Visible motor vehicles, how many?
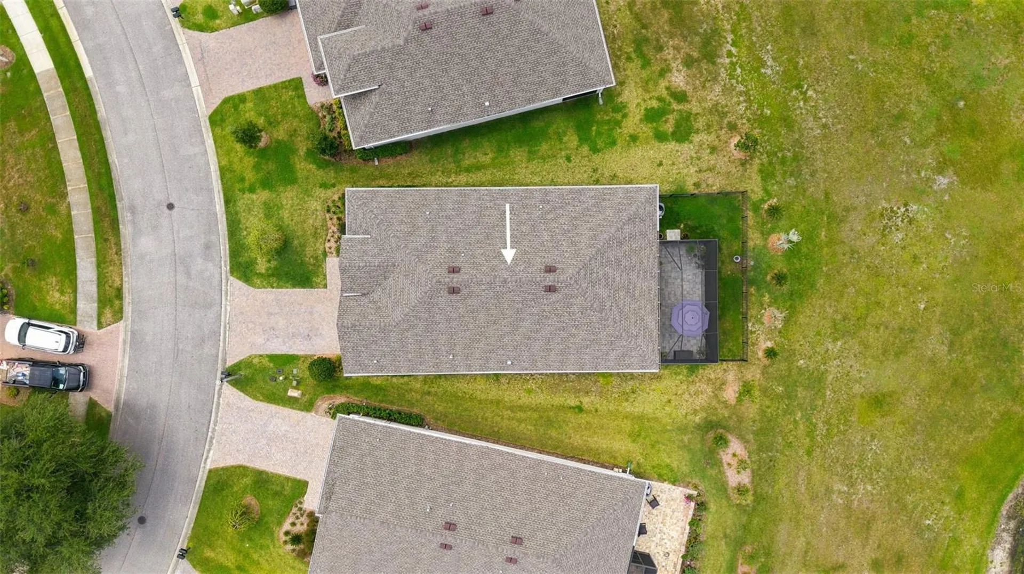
two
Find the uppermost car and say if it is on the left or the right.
left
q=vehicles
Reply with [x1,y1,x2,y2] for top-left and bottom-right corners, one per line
[5,316,86,356]
[4,357,90,395]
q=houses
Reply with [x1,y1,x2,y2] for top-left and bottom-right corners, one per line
[295,0,616,150]
[336,182,663,378]
[307,414,649,574]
